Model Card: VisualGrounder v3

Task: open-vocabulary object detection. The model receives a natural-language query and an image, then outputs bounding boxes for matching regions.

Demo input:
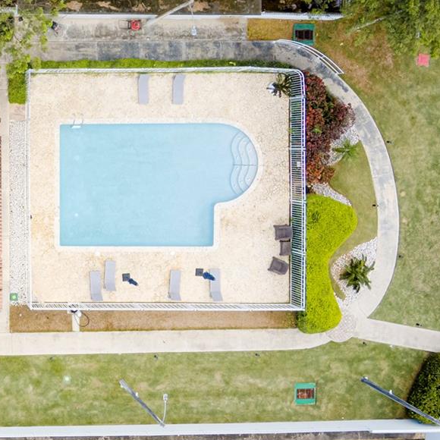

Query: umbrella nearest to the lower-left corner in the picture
[122,273,142,288]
